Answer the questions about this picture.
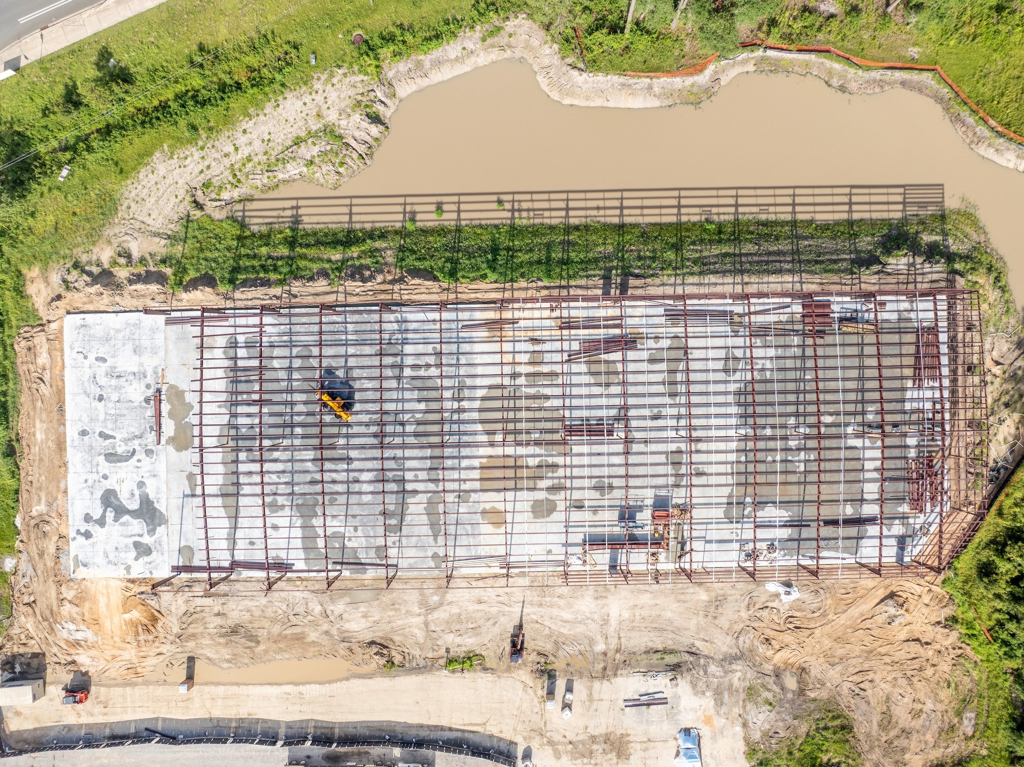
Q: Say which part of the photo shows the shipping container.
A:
bottom left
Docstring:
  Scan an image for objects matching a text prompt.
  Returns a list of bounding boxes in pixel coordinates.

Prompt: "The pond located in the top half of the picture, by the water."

[230,58,1024,312]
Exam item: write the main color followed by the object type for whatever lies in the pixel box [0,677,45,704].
white shipping container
